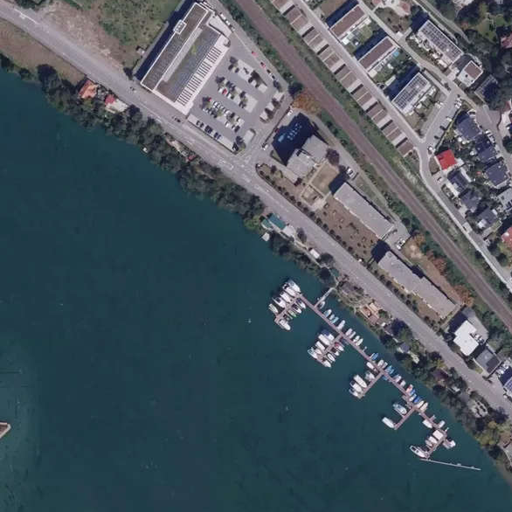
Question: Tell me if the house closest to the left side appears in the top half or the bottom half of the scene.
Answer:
top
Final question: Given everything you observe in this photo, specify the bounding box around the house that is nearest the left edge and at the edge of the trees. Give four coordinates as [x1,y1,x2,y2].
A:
[79,78,100,100]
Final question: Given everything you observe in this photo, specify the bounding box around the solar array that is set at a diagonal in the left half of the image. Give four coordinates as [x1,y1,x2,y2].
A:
[167,31,220,98]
